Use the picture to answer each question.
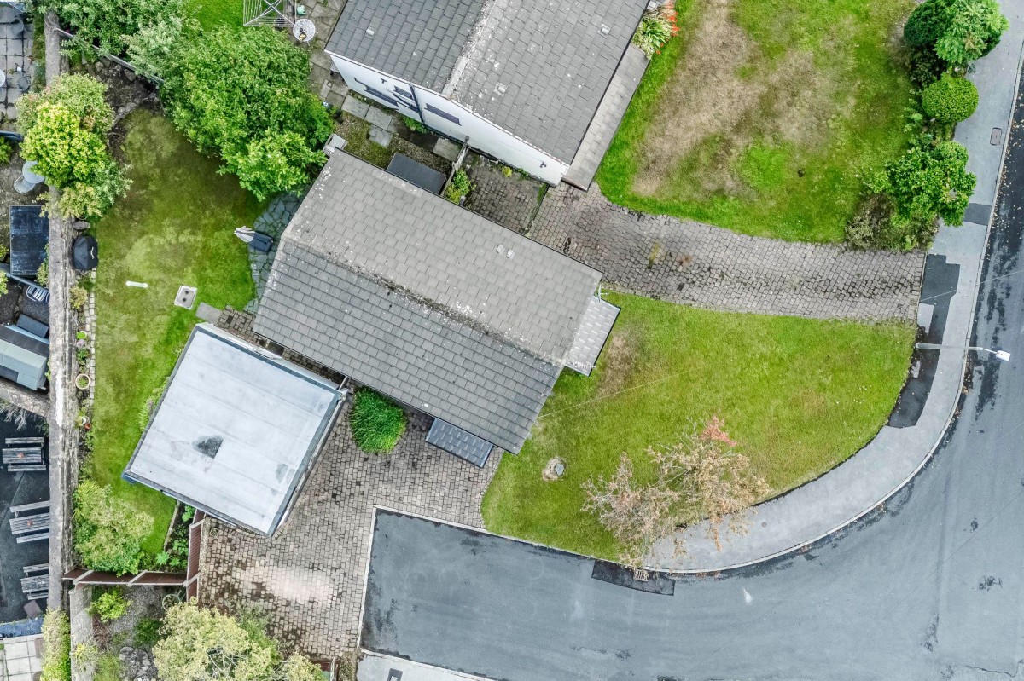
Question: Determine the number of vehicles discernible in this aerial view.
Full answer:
Not a single vehicle can be seen.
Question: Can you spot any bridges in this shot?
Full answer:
No, no bridge is visible in the scene.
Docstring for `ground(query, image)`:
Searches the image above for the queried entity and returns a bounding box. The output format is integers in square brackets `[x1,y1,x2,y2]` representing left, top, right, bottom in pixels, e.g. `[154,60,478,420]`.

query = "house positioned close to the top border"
[323,0,652,191]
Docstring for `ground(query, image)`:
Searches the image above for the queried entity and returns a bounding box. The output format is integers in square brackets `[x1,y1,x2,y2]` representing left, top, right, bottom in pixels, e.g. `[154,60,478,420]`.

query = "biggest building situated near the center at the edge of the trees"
[254,150,622,469]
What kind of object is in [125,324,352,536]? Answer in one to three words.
building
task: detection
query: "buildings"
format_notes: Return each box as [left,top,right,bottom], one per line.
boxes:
[254,150,622,469]
[323,0,652,191]
[0,323,51,390]
[125,324,352,536]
